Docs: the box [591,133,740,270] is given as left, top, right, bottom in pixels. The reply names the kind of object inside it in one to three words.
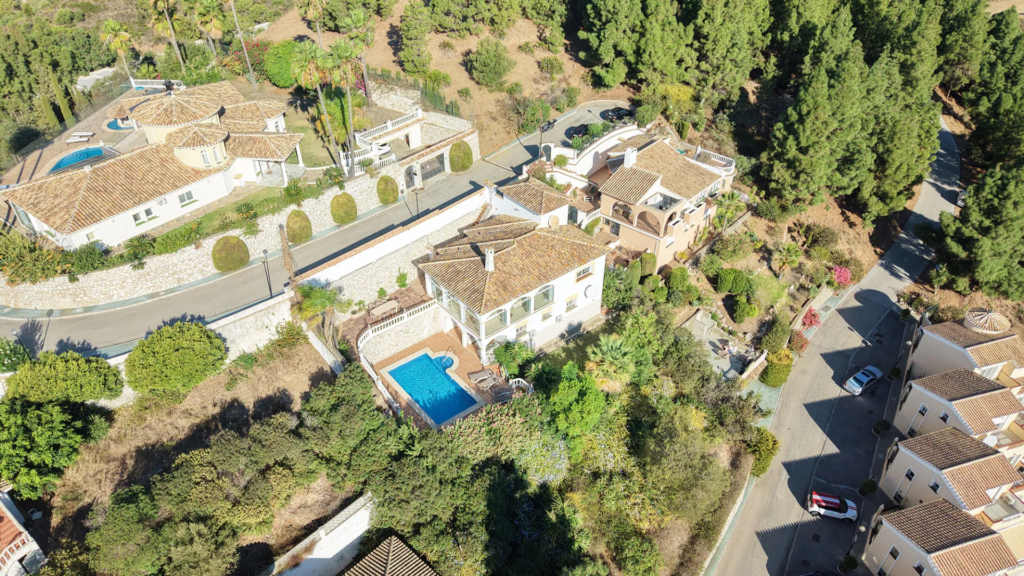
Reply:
house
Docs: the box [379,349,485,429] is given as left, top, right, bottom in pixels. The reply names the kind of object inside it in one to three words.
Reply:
swimming pool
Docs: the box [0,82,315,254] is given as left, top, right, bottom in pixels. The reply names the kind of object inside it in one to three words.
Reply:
house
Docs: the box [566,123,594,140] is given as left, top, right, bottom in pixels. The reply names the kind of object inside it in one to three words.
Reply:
car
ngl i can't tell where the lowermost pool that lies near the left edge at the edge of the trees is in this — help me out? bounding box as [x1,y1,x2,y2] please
[44,142,114,174]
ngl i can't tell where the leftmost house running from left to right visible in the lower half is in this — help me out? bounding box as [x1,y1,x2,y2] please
[344,535,436,576]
